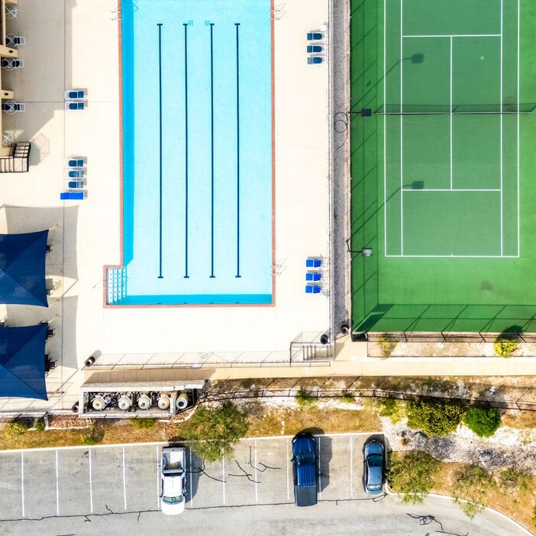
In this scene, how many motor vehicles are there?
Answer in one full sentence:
In total, 3 motor vehicles can be seen.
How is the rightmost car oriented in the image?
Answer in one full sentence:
The rightmost car is oriented from top to bottom.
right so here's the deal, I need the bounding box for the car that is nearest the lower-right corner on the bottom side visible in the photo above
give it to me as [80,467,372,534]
[360,436,388,495]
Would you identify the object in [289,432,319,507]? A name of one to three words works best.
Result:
truck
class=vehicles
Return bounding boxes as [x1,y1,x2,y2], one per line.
[156,446,186,518]
[360,436,388,495]
[289,432,319,507]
